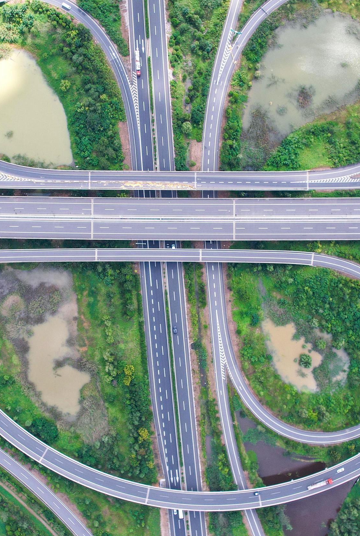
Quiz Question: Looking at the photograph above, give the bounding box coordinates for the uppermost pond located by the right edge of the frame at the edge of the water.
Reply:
[241,8,360,151]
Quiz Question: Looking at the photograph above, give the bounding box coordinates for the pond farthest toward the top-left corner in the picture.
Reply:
[0,45,75,170]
